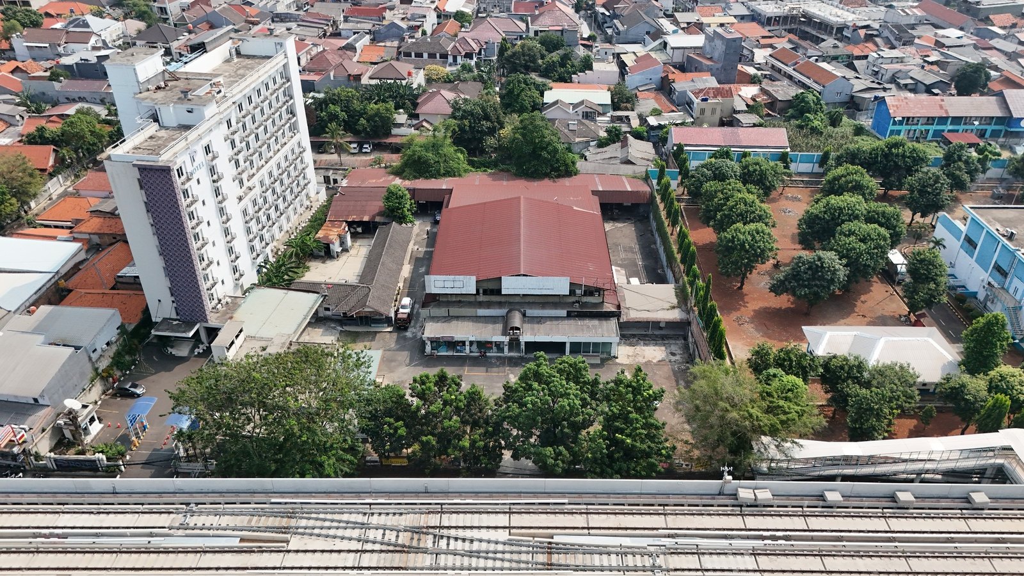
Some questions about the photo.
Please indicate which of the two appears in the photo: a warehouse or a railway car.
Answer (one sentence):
The image shows a warehouse.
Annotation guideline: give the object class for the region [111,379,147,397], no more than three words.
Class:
car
